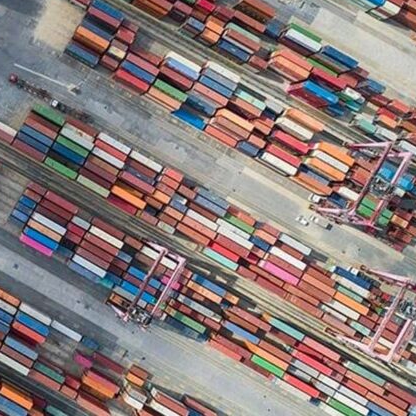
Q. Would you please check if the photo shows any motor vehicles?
Yes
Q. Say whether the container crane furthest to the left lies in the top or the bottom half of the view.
bottom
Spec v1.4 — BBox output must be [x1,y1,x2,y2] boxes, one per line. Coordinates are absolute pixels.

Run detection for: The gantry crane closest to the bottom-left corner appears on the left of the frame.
[104,237,188,330]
